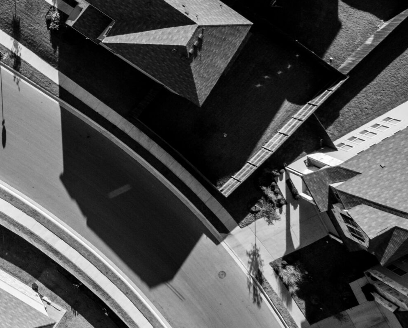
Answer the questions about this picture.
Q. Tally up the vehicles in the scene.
0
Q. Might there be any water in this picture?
No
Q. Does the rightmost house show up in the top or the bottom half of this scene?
bottom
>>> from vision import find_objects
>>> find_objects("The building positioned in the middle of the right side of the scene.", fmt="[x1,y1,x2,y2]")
[294,104,408,262]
